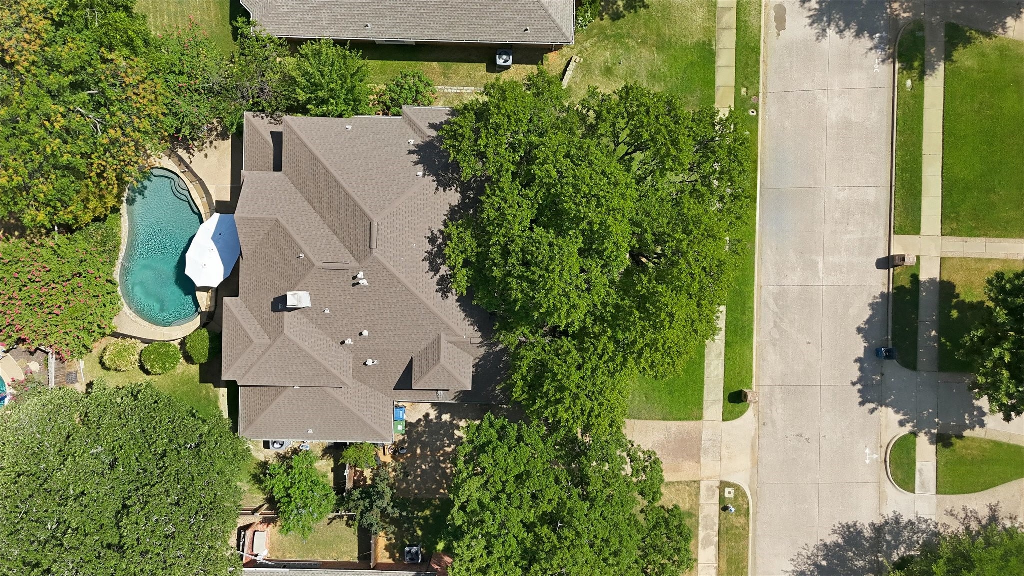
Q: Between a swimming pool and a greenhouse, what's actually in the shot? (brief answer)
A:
swimming pool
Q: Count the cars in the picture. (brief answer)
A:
0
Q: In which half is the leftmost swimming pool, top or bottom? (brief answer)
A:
bottom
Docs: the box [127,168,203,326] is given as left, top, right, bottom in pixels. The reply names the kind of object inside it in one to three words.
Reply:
swimming pool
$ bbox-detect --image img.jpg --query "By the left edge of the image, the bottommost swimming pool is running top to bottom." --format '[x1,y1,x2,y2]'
[0,351,23,414]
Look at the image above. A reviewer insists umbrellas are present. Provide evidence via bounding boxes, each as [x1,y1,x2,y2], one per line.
[185,213,239,288]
